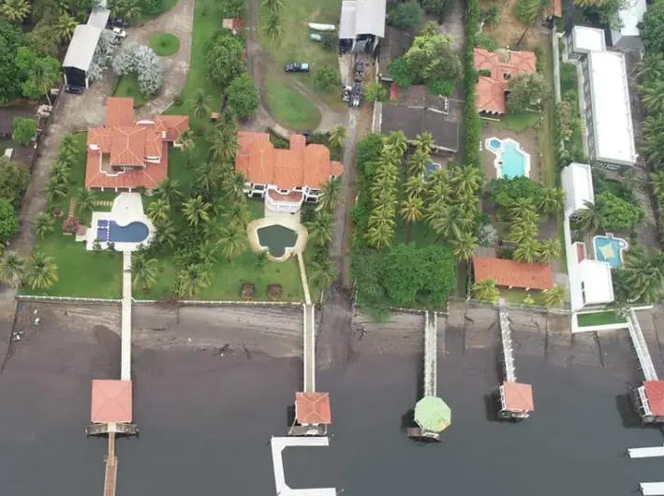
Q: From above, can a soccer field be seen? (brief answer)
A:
No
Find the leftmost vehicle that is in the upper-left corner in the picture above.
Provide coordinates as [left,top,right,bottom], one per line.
[67,73,81,91]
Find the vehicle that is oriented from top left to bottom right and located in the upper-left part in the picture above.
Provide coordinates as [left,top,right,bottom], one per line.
[110,24,130,38]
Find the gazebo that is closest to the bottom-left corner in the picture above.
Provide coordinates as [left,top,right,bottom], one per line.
[91,379,133,425]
